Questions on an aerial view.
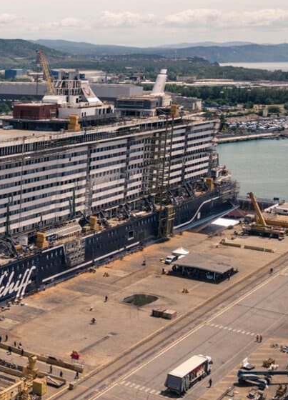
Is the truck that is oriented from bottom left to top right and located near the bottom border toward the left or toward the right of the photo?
right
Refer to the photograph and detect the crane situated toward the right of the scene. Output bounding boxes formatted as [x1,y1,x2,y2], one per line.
[246,192,288,237]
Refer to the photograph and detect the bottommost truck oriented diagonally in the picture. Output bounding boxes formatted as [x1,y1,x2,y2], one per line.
[167,353,213,394]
